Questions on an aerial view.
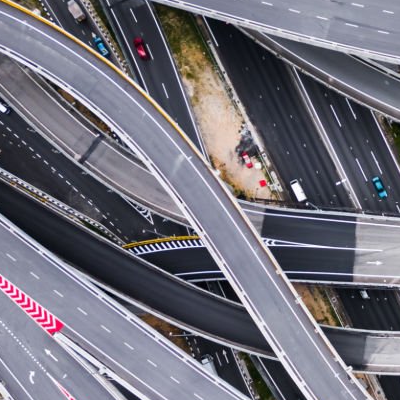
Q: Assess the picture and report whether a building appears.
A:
No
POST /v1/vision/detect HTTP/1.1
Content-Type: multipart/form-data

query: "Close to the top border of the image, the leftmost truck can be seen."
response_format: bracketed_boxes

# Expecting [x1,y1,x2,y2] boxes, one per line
[66,0,87,25]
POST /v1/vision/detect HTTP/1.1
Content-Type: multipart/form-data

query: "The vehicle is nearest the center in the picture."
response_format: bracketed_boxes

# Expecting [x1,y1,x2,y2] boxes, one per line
[289,179,306,204]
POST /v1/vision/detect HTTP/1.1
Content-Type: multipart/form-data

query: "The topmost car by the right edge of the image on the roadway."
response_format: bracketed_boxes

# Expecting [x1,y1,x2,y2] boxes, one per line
[372,175,386,198]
